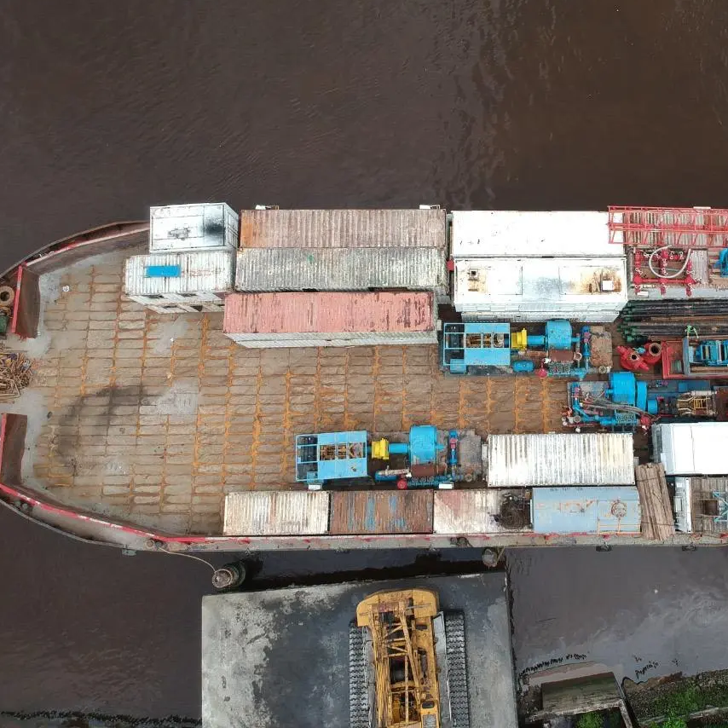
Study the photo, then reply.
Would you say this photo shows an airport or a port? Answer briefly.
port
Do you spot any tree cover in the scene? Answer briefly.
No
